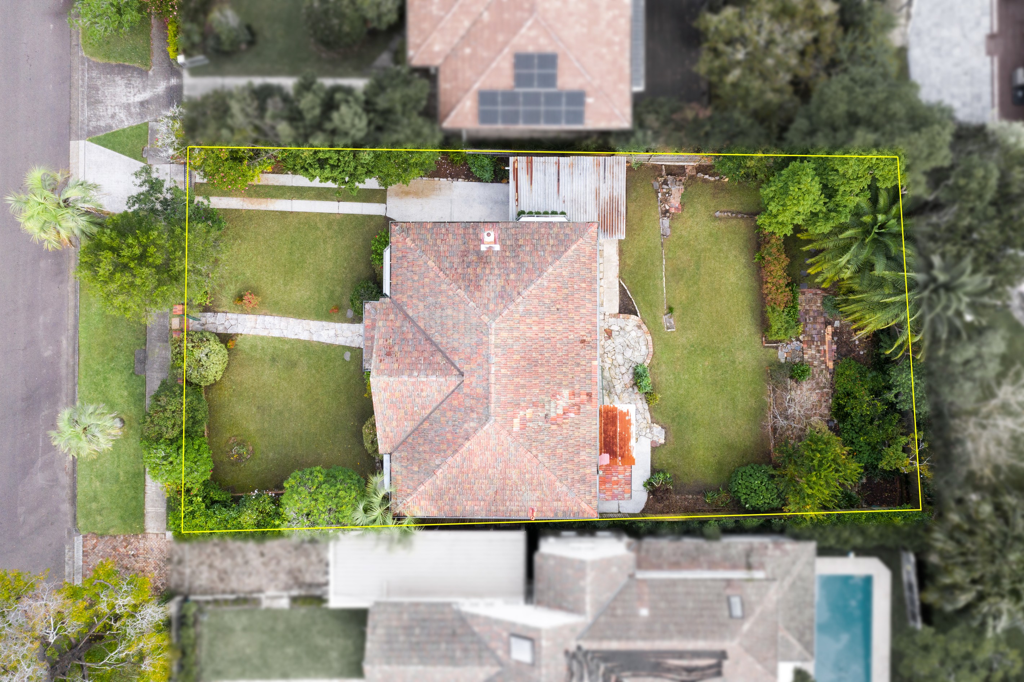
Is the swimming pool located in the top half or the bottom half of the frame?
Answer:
bottom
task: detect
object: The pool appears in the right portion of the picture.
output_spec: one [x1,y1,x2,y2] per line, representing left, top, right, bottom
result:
[818,576,872,682]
